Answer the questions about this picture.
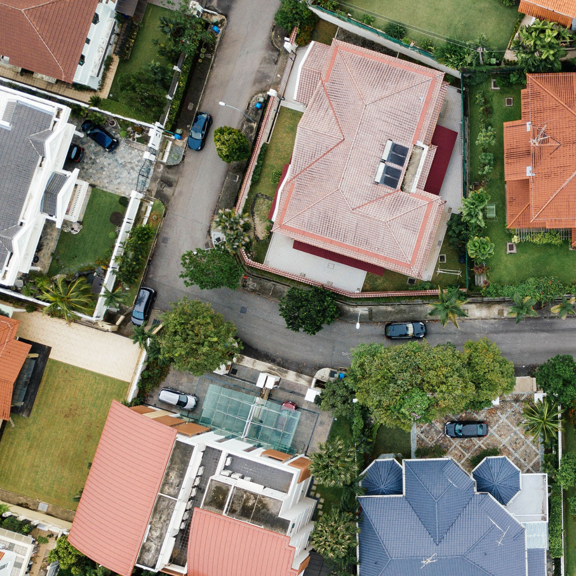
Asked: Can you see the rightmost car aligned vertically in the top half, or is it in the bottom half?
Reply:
bottom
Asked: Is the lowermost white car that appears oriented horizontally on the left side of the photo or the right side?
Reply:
left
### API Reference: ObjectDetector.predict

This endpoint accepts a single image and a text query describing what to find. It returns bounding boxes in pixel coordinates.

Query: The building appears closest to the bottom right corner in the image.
[356,454,548,576]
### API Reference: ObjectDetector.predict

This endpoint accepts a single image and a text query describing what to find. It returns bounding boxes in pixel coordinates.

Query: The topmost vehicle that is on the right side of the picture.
[384,321,427,339]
